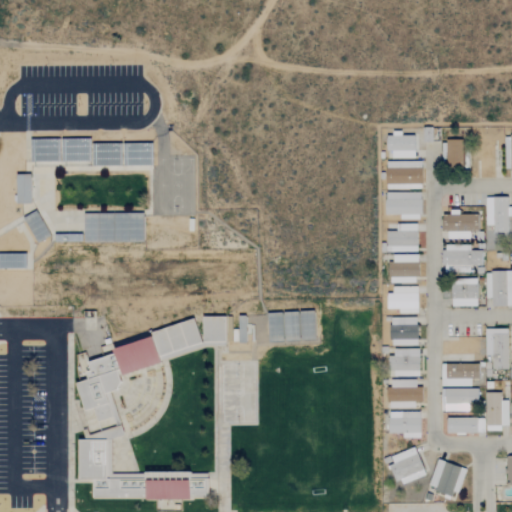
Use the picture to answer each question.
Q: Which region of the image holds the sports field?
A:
bottom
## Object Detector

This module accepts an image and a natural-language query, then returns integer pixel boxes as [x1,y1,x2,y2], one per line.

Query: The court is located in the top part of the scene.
[154,154,197,216]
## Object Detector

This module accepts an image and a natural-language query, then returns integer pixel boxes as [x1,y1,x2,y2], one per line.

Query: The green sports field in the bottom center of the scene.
[231,300,380,512]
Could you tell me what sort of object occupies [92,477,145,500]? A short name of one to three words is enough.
building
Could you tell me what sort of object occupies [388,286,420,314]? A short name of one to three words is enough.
house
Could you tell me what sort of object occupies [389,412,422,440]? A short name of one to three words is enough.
house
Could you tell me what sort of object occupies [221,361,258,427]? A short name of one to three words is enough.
basketball court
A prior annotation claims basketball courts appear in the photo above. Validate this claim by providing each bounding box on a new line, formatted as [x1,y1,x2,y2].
[221,361,258,427]
[154,154,197,216]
